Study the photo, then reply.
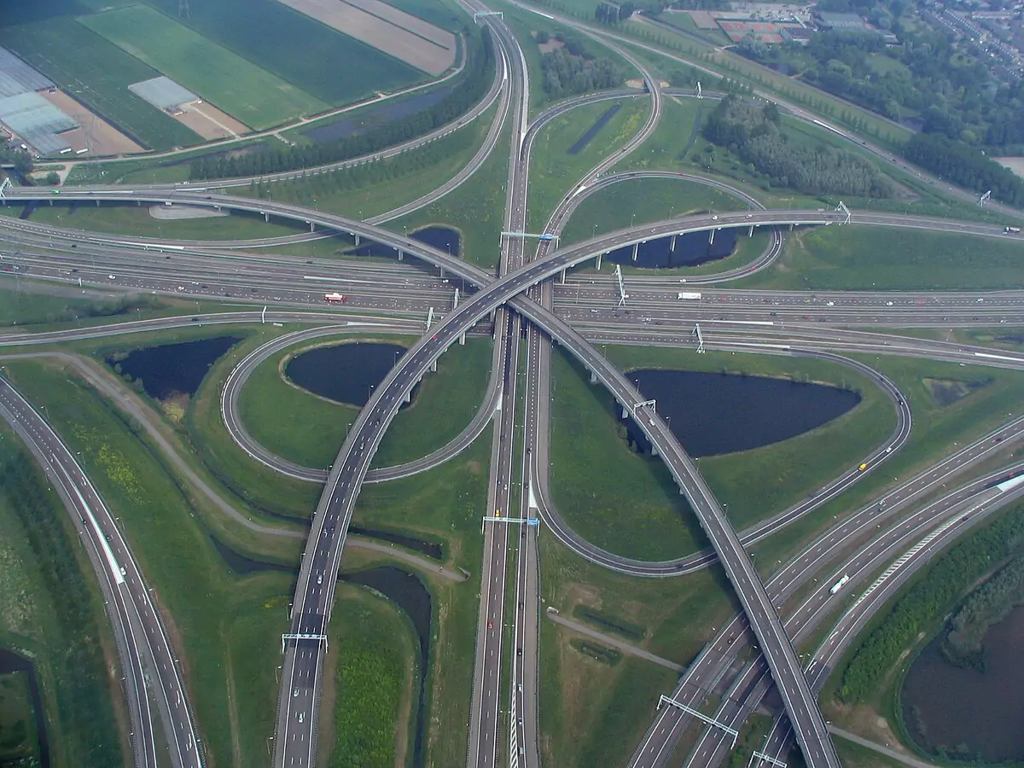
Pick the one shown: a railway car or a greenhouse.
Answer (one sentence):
I can see a greenhouse in this picture.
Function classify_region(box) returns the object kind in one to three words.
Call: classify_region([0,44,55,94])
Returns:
greenhouse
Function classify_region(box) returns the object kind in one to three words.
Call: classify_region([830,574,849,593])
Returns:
vehicle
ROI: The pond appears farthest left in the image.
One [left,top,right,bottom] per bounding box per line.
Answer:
[108,335,242,399]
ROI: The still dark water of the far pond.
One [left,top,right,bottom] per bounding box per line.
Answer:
[343,225,463,263]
